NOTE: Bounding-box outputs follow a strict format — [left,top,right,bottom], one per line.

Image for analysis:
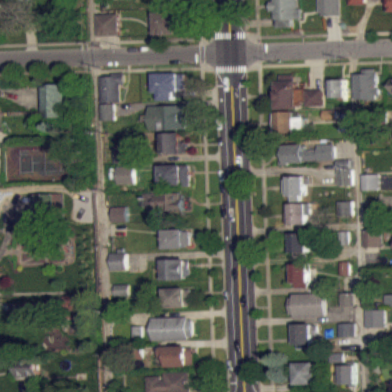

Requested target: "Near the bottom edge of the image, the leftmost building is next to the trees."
[8,364,43,380]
